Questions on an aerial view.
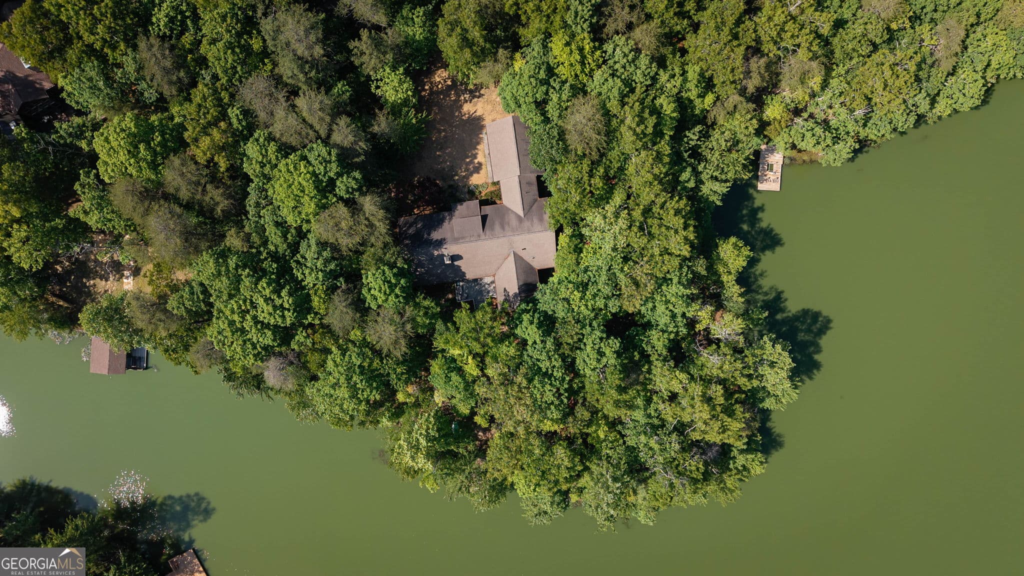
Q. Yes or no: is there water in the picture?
Yes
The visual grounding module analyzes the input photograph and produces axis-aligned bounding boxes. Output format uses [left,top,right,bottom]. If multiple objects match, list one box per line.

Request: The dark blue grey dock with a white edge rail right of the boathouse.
[126,340,149,371]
